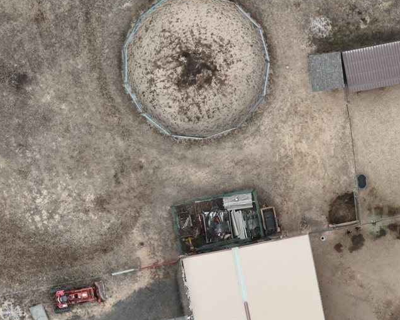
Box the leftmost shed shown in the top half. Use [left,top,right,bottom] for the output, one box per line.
[307,52,344,96]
